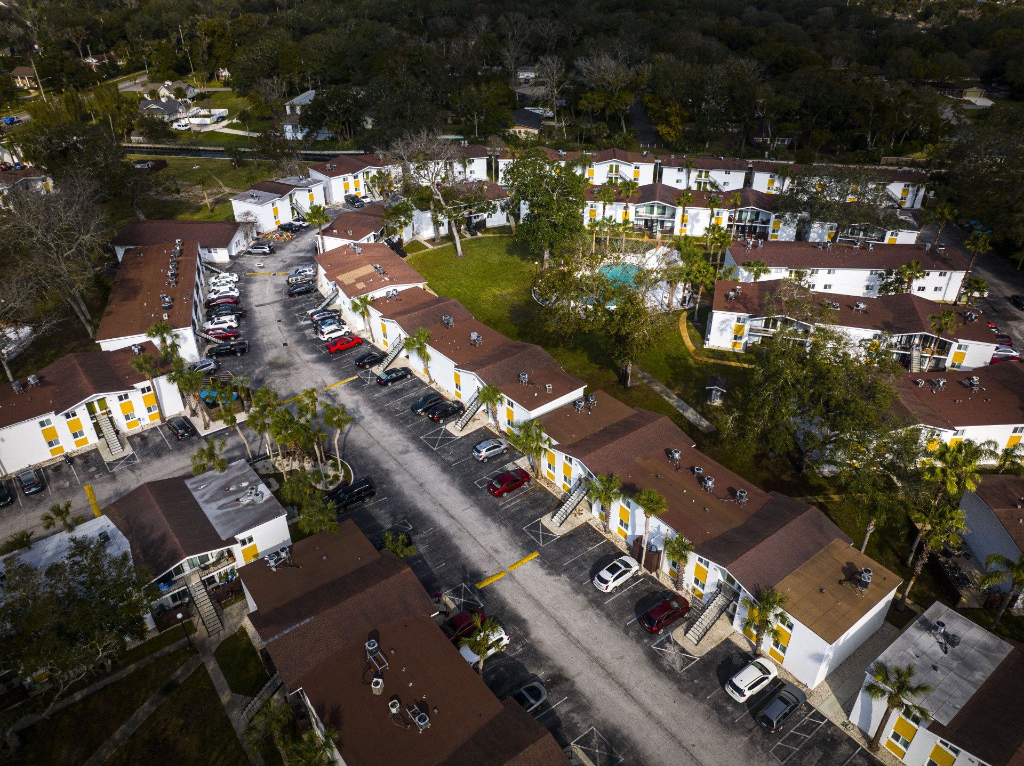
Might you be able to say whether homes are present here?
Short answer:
Yes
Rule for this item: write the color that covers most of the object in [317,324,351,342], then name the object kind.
white car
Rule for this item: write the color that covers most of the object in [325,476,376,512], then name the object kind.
black car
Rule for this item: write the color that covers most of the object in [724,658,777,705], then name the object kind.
white car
